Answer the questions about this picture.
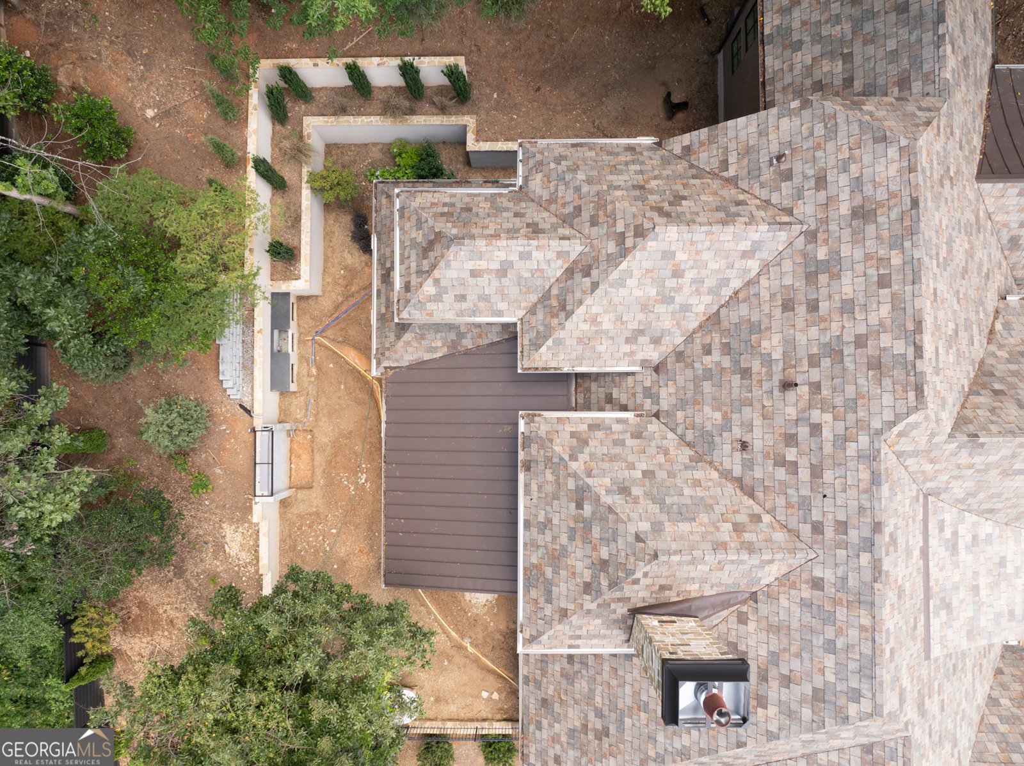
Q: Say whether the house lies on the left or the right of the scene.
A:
right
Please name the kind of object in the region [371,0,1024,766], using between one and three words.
house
